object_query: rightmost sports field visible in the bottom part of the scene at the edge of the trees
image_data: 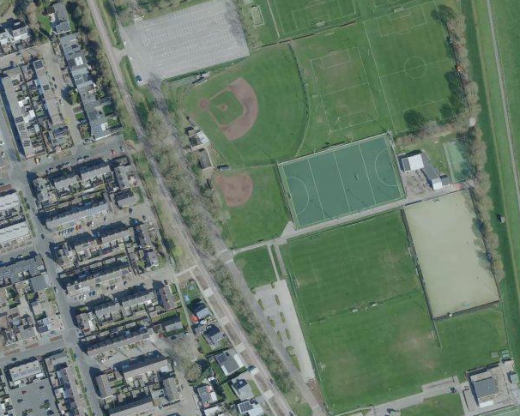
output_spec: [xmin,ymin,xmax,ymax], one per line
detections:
[404,190,499,317]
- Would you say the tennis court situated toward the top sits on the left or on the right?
right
